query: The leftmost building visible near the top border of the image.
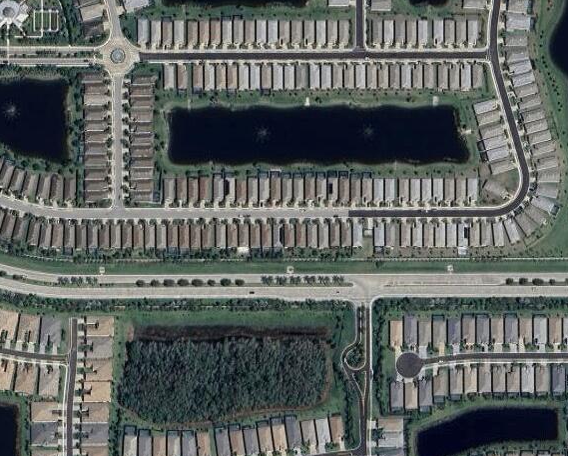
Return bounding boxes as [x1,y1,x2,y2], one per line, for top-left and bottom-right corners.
[0,1,26,29]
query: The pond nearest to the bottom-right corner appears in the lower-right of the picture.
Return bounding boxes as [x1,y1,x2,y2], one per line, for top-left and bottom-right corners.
[417,407,558,456]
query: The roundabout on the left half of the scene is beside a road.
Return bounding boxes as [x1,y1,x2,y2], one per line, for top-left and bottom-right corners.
[94,34,142,79]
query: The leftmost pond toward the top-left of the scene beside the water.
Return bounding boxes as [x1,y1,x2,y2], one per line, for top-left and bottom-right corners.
[0,80,69,160]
